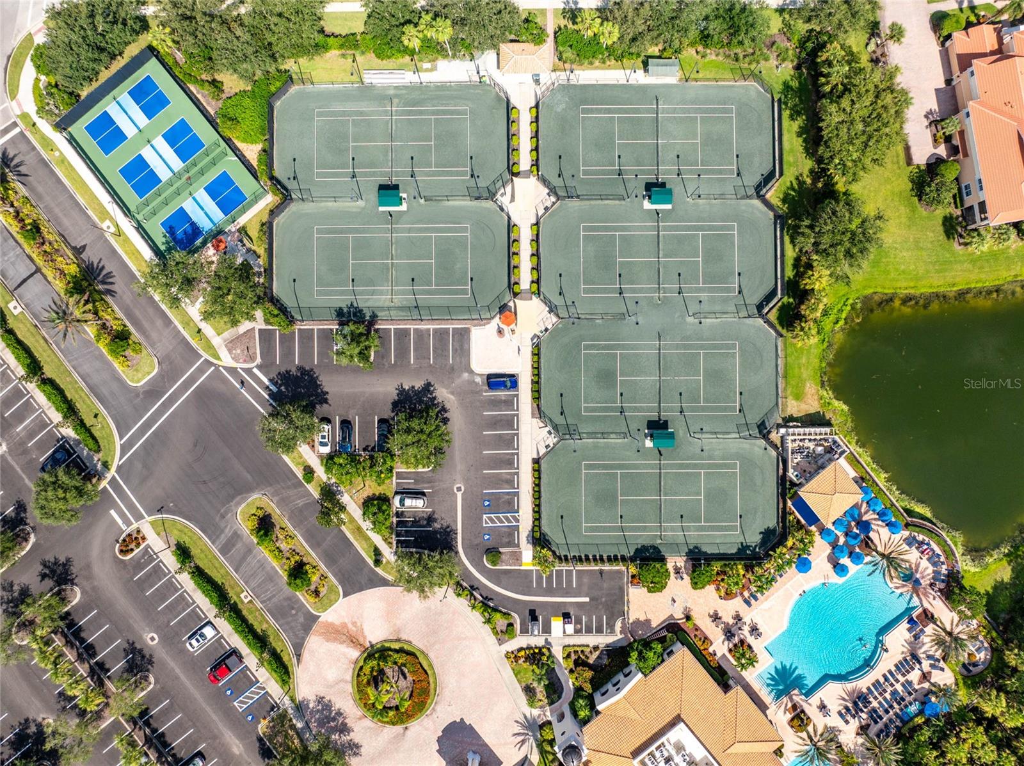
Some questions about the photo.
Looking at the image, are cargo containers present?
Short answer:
No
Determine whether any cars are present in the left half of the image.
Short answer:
Yes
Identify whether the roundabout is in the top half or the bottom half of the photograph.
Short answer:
bottom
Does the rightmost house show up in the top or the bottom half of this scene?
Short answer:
top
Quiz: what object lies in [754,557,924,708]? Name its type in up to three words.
swimming pool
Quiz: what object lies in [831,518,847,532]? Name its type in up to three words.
umbrella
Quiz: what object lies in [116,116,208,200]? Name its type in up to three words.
sports court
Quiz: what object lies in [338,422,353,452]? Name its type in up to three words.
car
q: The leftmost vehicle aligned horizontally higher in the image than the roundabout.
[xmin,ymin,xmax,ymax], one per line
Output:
[394,493,427,507]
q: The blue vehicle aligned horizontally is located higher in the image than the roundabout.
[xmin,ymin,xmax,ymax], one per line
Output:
[488,376,518,390]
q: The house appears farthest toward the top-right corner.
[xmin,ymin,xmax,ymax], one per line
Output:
[940,24,1024,232]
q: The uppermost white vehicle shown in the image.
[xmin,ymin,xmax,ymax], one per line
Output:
[317,420,332,452]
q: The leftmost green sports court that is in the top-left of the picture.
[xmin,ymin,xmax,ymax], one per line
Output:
[69,57,268,264]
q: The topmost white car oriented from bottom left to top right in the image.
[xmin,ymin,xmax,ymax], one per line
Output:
[186,623,217,652]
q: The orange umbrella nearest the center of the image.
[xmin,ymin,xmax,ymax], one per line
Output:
[500,311,515,327]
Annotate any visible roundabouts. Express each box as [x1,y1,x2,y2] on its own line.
[297,585,538,766]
